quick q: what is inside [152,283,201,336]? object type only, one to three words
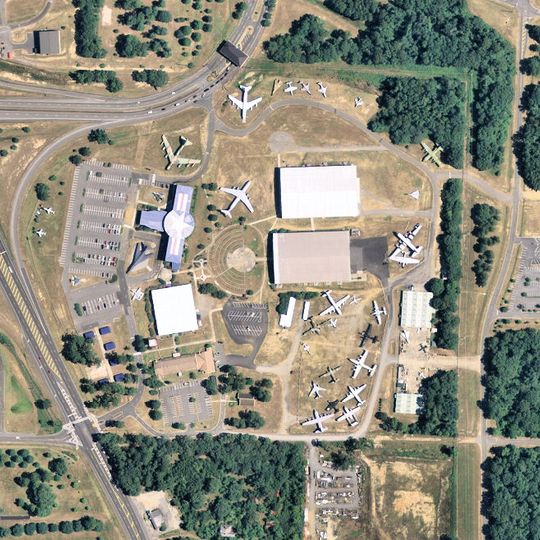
building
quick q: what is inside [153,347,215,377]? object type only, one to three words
building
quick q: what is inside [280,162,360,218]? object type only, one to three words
hangar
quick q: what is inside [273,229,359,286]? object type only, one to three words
hangar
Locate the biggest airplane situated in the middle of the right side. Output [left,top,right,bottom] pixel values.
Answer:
[391,224,423,258]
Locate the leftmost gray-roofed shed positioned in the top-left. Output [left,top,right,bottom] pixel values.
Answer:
[38,30,59,54]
